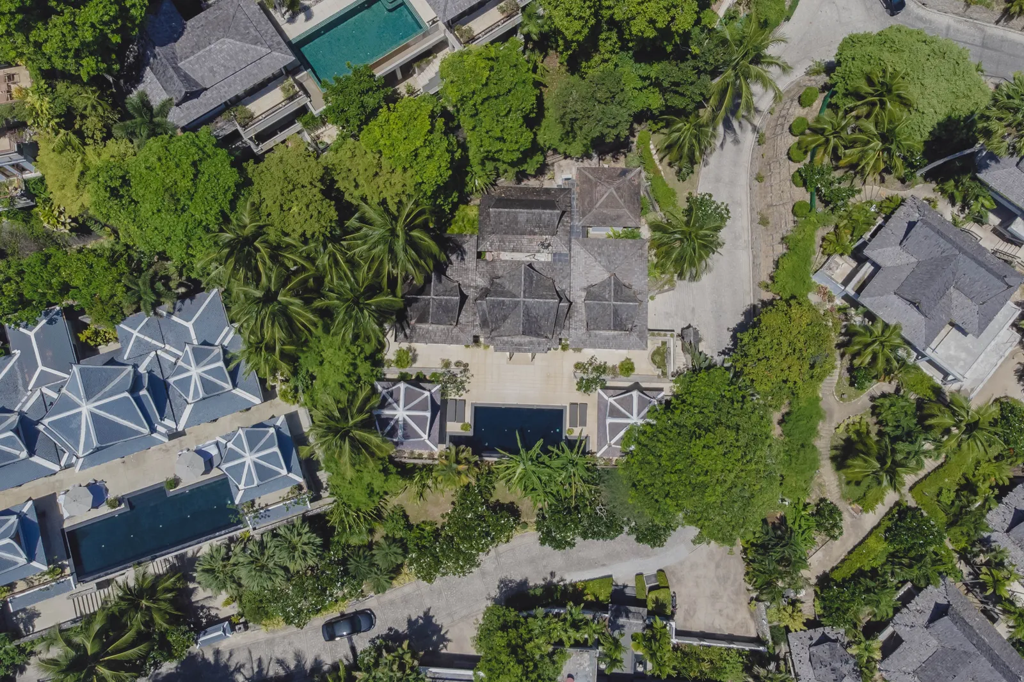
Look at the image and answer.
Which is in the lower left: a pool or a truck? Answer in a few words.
pool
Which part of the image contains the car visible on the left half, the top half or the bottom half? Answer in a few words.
bottom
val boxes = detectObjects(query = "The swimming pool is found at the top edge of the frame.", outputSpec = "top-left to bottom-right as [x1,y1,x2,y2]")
[290,0,428,102]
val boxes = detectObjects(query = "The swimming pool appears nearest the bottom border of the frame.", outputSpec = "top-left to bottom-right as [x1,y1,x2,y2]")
[62,478,248,587]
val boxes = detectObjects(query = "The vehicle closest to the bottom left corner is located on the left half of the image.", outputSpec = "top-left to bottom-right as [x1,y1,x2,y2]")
[320,608,377,641]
